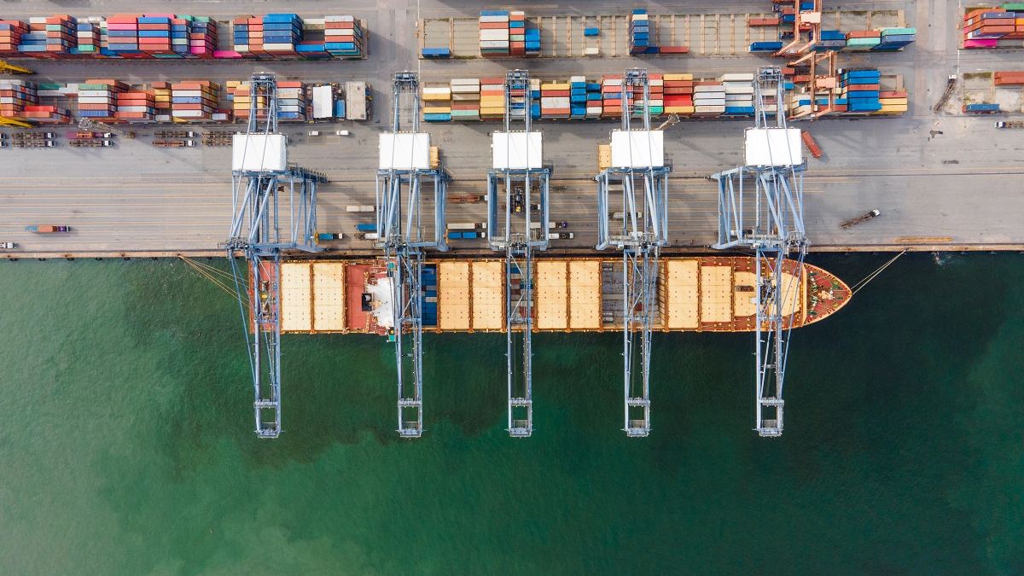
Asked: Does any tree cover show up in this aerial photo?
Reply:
No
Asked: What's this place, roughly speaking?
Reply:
port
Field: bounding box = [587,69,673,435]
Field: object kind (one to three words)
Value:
container crane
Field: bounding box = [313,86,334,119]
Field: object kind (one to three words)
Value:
shed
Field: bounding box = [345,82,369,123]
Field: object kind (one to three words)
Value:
building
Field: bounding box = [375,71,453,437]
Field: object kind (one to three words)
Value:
container crane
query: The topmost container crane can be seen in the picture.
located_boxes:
[766,0,821,58]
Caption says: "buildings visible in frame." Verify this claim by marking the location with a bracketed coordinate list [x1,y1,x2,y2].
[345,82,369,123]
[313,86,334,119]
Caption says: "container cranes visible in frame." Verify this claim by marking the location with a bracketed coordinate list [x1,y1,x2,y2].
[587,69,673,435]
[782,49,838,120]
[766,0,821,58]
[229,72,326,438]
[375,71,453,437]
[706,68,807,434]
[483,70,556,436]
